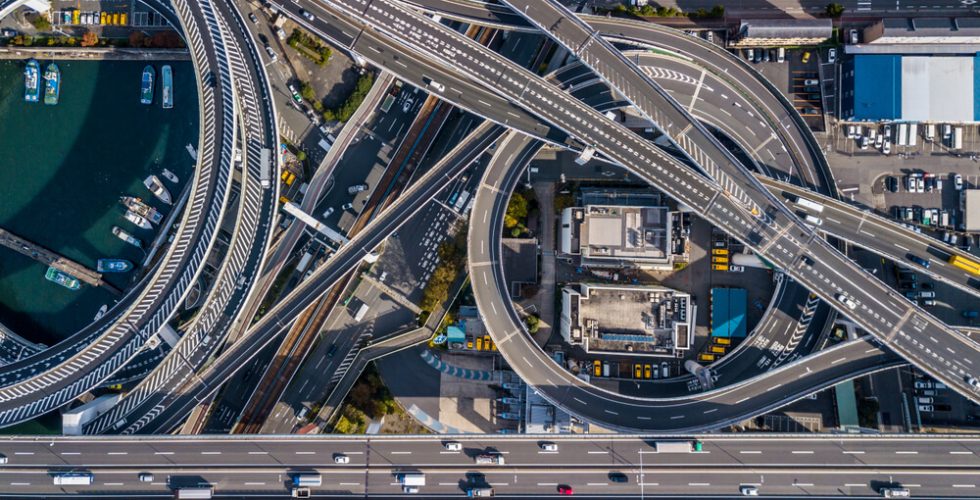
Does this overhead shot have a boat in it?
Yes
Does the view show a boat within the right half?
No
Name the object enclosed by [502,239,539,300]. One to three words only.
building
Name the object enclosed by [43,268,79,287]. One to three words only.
boat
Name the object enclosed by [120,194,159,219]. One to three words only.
boat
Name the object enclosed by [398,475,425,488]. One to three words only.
vehicle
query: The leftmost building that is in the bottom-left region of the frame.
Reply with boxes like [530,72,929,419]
[63,378,145,434]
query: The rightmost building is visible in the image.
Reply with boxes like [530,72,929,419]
[947,190,980,233]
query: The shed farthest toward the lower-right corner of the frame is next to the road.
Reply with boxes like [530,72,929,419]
[826,378,862,434]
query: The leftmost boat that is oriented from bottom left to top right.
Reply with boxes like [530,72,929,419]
[92,304,106,320]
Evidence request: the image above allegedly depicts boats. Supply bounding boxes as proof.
[92,304,106,320]
[140,63,152,103]
[162,168,178,182]
[43,268,79,287]
[110,227,142,248]
[96,260,132,273]
[122,210,151,227]
[44,62,58,103]
[141,173,170,203]
[120,194,159,219]
[186,144,195,159]
[161,64,171,107]
[23,60,37,102]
